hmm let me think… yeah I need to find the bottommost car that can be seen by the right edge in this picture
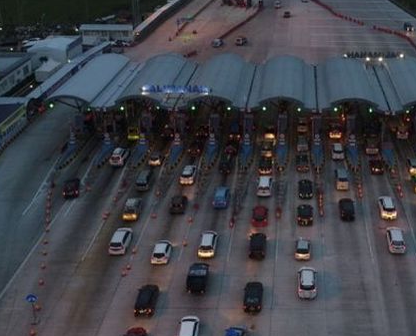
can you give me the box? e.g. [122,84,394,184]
[386,228,408,255]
